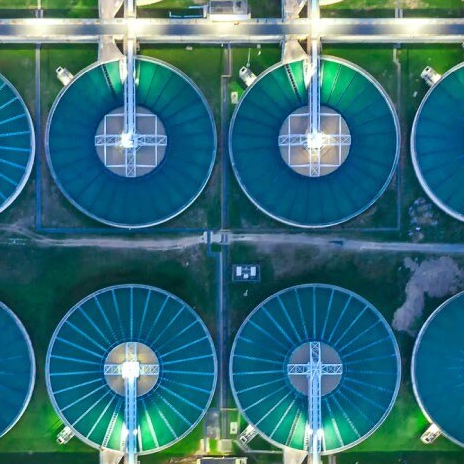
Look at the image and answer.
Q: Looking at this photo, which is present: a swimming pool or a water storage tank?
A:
water storage tank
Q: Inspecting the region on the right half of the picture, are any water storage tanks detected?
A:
Yes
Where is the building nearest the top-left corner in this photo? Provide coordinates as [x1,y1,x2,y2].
[206,0,251,19]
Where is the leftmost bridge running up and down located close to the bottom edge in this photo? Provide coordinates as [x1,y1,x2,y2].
[123,377,148,464]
